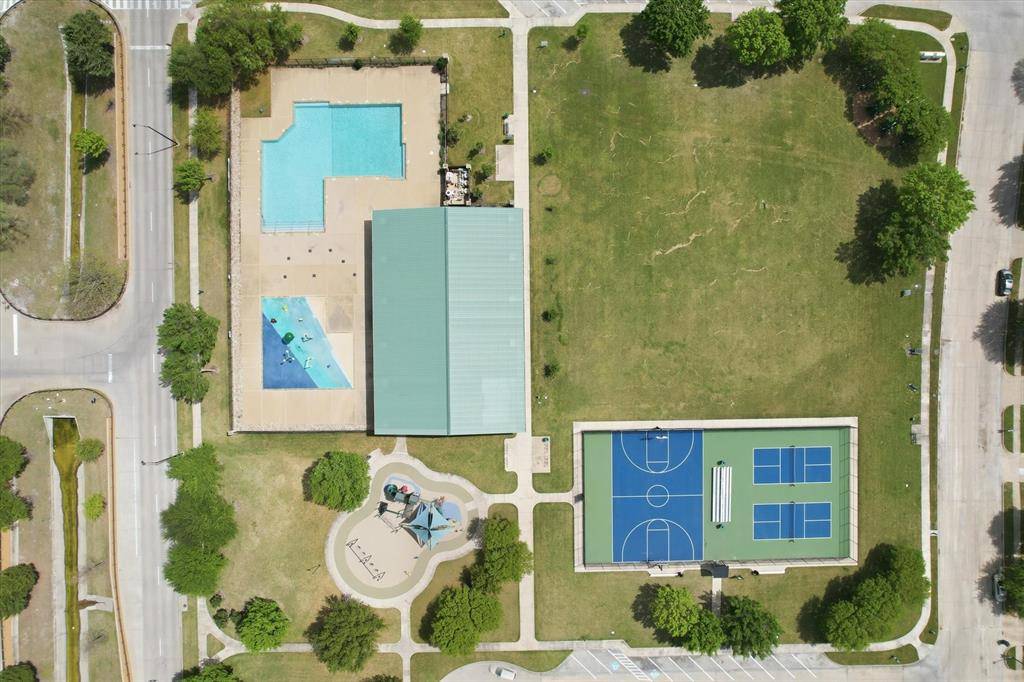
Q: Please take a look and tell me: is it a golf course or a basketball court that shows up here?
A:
basketball court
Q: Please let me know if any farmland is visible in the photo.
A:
No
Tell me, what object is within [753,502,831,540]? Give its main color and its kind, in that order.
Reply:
blue sports court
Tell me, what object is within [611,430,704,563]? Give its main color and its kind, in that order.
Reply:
blue basketball court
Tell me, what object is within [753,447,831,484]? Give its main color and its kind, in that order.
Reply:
blue sports court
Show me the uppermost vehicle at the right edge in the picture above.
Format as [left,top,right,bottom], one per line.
[1000,270,1015,296]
